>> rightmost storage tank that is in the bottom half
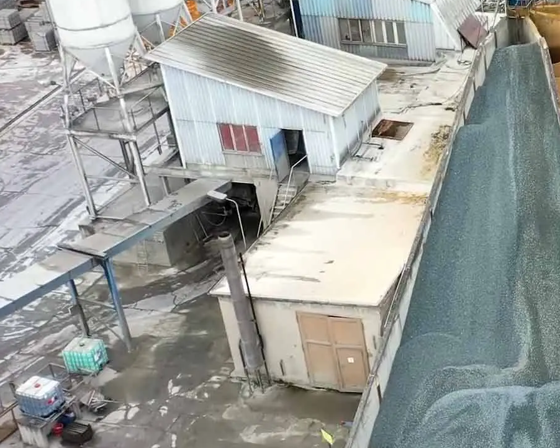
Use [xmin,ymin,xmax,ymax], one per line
[59,327,108,377]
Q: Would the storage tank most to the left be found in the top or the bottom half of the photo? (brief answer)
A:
bottom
